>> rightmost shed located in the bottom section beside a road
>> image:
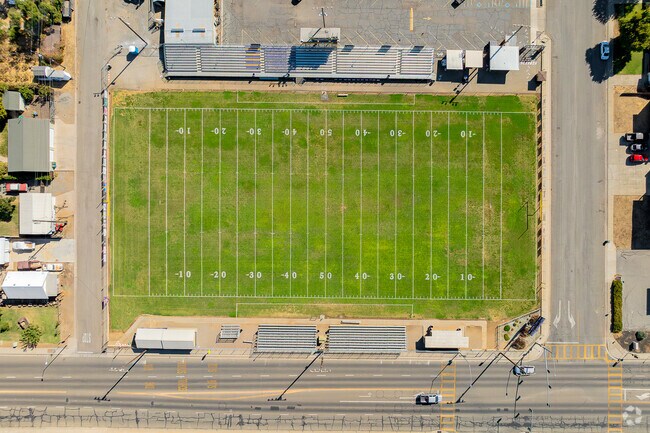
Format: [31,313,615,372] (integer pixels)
[161,326,198,349]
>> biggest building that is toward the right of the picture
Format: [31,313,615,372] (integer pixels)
[487,46,519,72]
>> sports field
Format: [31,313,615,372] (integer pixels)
[105,88,541,336]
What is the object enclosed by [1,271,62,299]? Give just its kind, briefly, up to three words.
house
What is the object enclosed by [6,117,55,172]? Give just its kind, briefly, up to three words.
building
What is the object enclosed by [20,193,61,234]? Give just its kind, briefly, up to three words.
house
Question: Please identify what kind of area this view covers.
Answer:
sports ground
